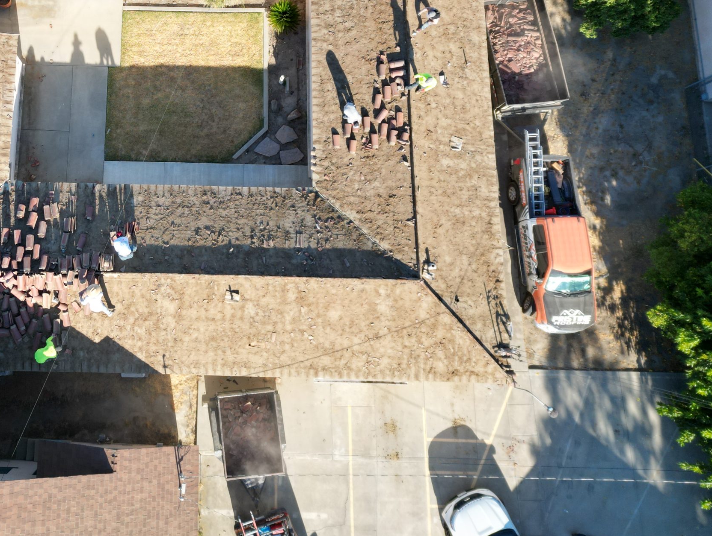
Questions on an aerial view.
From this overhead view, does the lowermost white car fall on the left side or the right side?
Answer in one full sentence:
It is on the right.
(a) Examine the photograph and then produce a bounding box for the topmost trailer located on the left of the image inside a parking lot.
[205,381,292,510]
